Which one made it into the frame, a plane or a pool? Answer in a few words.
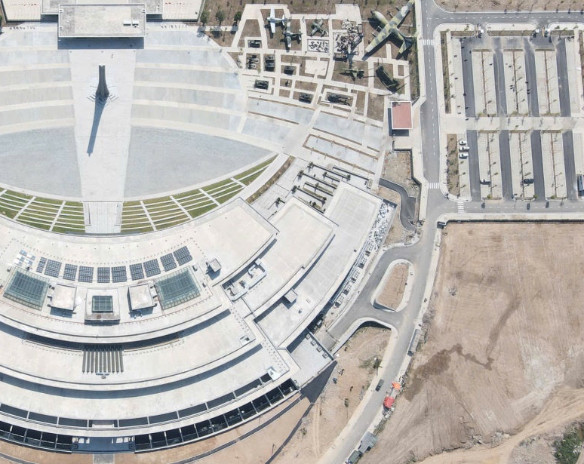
plane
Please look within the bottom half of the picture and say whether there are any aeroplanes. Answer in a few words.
No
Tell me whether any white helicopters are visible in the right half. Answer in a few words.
No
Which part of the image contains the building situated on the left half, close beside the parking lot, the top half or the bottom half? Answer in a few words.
bottom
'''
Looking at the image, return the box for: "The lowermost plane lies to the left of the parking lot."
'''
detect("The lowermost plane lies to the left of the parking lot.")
[343,62,365,79]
